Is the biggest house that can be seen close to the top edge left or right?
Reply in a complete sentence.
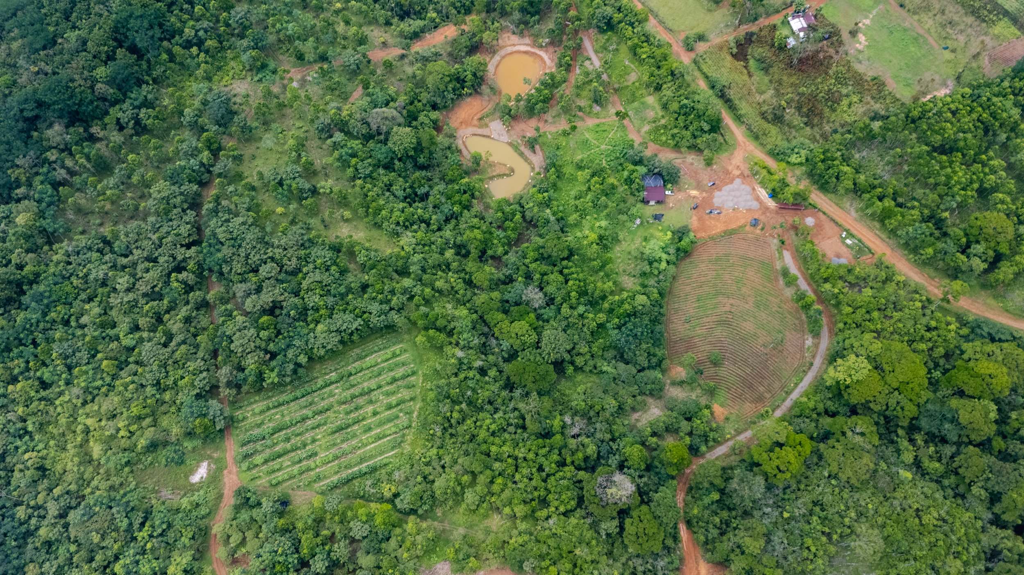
The biggest house that can be seen close to the top edge is on the right side of the image.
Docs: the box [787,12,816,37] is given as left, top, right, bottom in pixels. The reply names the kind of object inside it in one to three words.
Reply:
house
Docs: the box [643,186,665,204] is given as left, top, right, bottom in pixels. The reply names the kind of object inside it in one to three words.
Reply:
house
